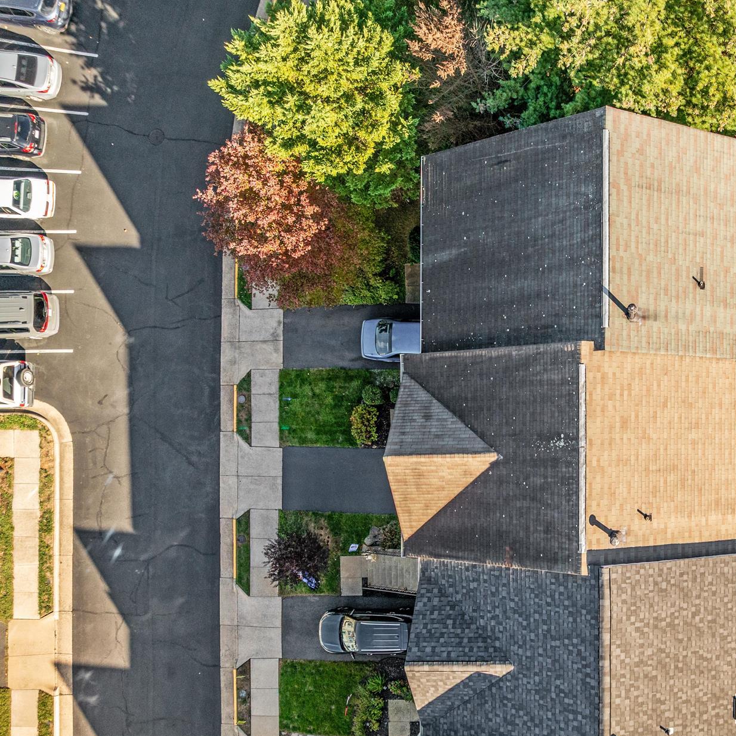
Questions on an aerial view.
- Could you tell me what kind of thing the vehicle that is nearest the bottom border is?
car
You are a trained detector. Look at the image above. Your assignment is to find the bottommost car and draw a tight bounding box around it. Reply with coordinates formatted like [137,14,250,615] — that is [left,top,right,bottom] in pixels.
[317,610,414,663]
